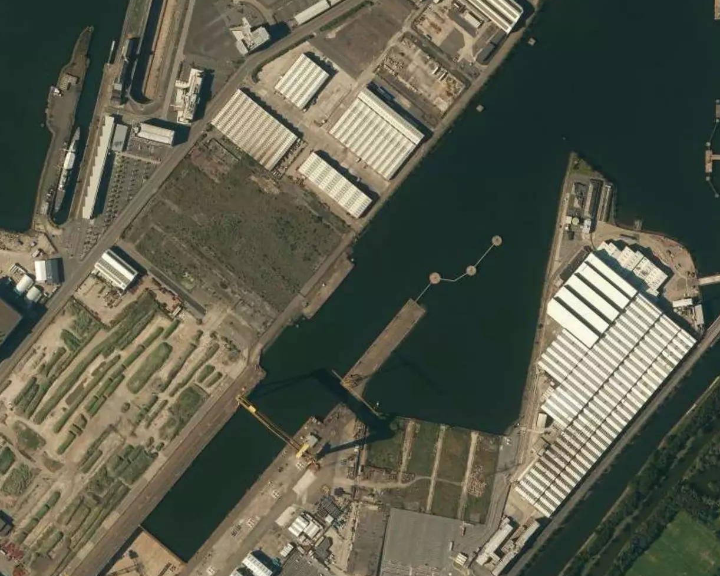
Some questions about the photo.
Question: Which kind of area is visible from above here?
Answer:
port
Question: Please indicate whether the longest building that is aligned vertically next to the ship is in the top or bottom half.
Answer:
top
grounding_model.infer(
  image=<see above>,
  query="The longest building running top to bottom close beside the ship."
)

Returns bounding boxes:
[82,115,114,219]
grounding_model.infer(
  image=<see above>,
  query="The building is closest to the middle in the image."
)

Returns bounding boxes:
[298,153,372,218]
